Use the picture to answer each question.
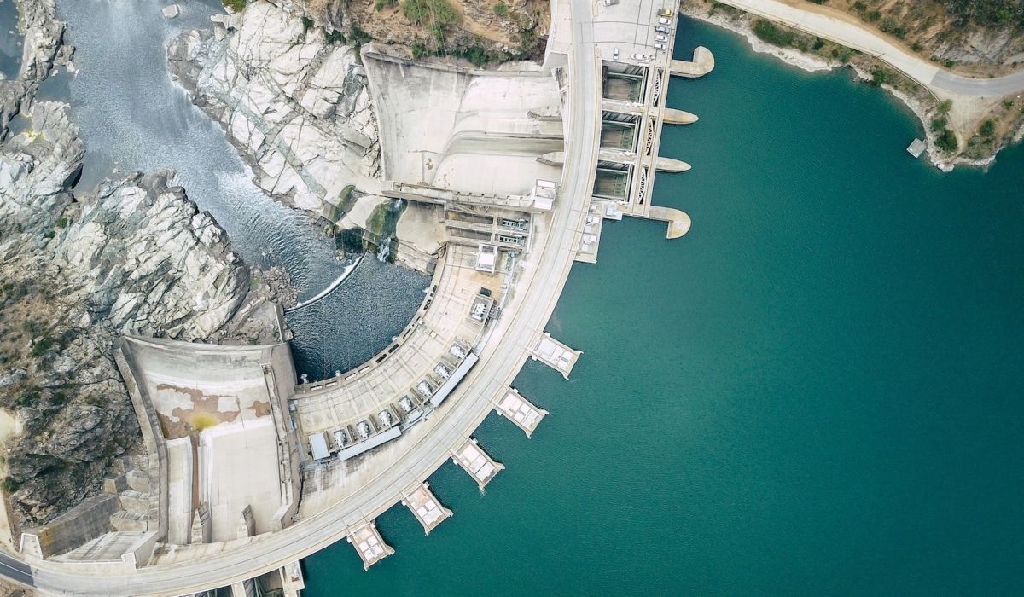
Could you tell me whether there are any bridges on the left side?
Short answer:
No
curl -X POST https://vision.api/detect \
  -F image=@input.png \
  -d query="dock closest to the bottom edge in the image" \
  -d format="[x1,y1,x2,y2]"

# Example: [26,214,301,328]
[590,198,691,239]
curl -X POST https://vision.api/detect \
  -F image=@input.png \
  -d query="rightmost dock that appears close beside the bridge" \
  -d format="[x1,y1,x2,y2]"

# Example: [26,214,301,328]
[661,46,714,79]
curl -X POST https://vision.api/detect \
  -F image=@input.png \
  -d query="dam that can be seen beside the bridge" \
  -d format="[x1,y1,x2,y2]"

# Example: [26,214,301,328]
[30,0,603,597]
